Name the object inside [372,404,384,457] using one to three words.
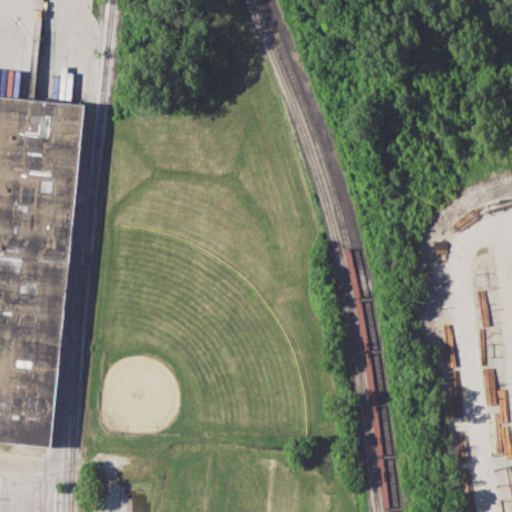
rail car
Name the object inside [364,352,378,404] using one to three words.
rail car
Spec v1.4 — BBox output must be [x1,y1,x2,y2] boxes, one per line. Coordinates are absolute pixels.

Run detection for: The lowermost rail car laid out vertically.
[378,458,390,510]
